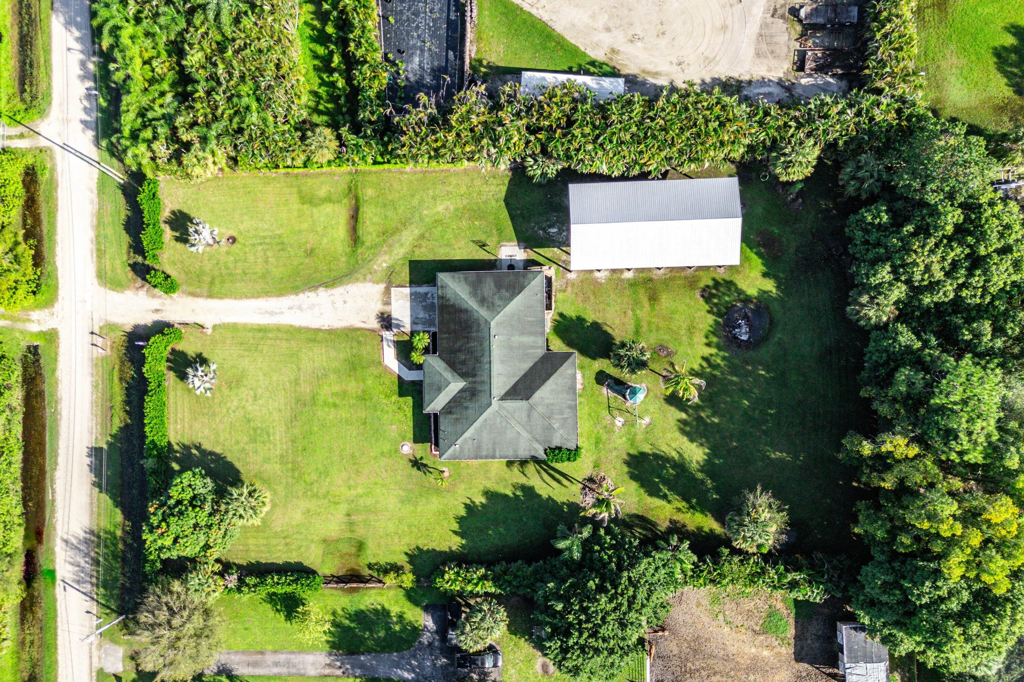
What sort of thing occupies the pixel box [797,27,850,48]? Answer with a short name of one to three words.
trailer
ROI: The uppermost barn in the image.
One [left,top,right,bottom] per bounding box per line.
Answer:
[567,177,742,277]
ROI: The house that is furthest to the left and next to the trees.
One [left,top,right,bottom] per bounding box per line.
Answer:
[422,270,579,461]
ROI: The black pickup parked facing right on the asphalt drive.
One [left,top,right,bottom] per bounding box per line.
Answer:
[452,651,506,676]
